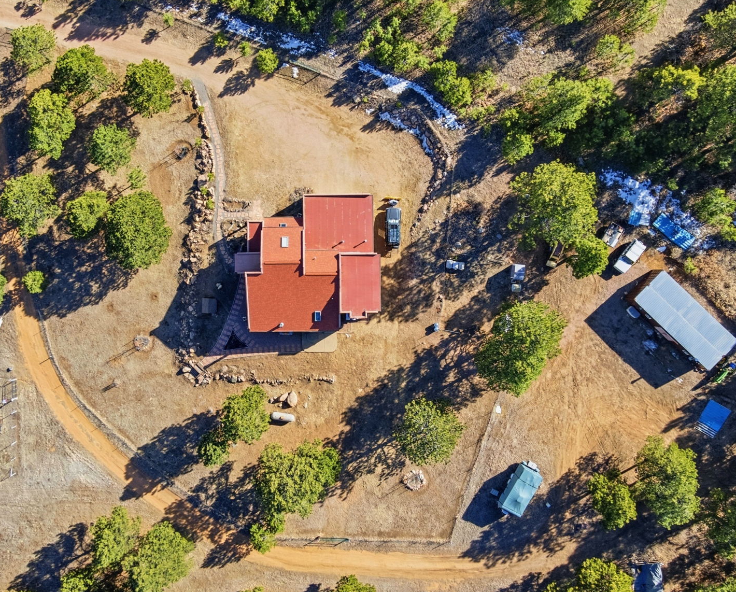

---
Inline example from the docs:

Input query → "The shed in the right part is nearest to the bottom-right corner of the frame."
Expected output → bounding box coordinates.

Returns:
[688,398,731,439]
